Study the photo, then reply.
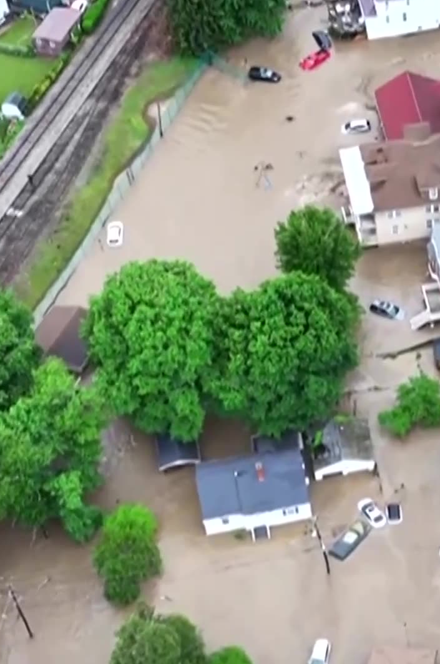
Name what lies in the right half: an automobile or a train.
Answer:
automobile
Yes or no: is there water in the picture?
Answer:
Yes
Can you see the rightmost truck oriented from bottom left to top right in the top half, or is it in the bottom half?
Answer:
bottom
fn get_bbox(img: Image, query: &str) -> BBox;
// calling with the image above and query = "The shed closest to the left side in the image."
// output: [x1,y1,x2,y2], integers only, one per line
[1,98,30,123]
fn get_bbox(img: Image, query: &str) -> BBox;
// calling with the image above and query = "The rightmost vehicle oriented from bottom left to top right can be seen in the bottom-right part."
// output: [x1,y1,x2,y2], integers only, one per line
[326,521,373,566]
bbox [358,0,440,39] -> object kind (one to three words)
house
